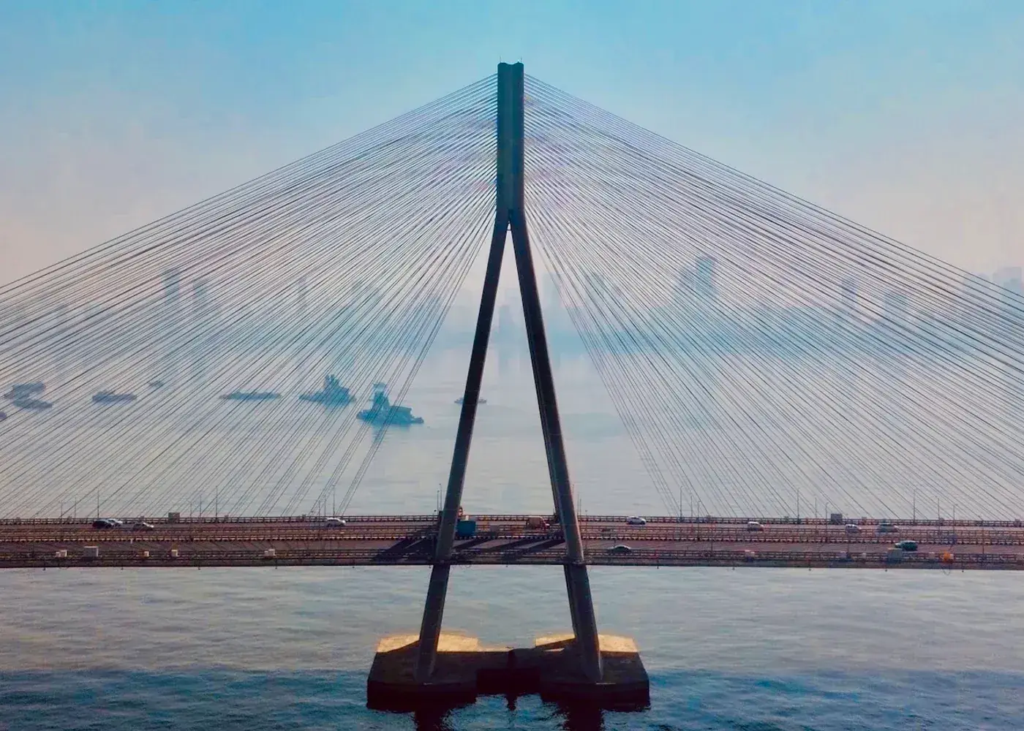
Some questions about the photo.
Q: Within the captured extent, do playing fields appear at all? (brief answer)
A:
No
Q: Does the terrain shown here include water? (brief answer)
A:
Yes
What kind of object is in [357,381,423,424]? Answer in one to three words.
ship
